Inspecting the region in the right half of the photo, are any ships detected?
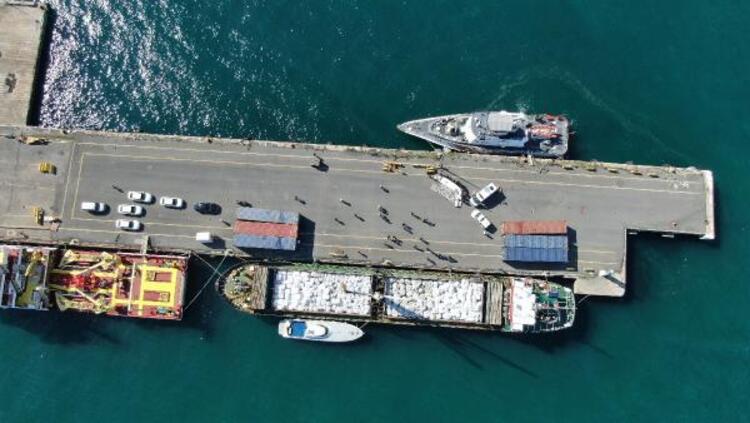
Yes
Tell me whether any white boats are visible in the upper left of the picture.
No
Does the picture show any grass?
No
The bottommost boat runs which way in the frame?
from left to right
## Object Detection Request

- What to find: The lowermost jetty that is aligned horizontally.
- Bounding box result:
[0,126,716,296]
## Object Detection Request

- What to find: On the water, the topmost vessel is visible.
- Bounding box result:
[398,110,577,159]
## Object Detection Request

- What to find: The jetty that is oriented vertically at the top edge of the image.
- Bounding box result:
[0,0,53,128]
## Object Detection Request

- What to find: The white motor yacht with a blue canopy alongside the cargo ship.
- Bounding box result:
[278,318,364,342]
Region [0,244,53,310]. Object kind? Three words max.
boat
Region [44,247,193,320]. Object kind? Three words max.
ship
